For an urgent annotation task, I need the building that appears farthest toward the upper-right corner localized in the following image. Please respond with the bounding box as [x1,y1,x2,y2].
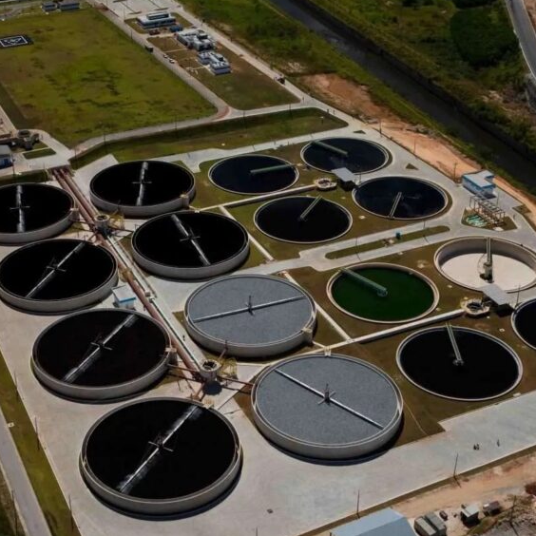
[463,170,495,203]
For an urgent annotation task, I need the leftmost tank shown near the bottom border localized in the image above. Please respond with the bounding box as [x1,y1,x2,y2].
[81,396,243,517]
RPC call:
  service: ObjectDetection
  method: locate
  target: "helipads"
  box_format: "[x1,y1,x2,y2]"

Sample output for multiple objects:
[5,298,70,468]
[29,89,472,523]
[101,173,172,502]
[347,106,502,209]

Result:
[0,34,33,49]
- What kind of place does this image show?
industrial area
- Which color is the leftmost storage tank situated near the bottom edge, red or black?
black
